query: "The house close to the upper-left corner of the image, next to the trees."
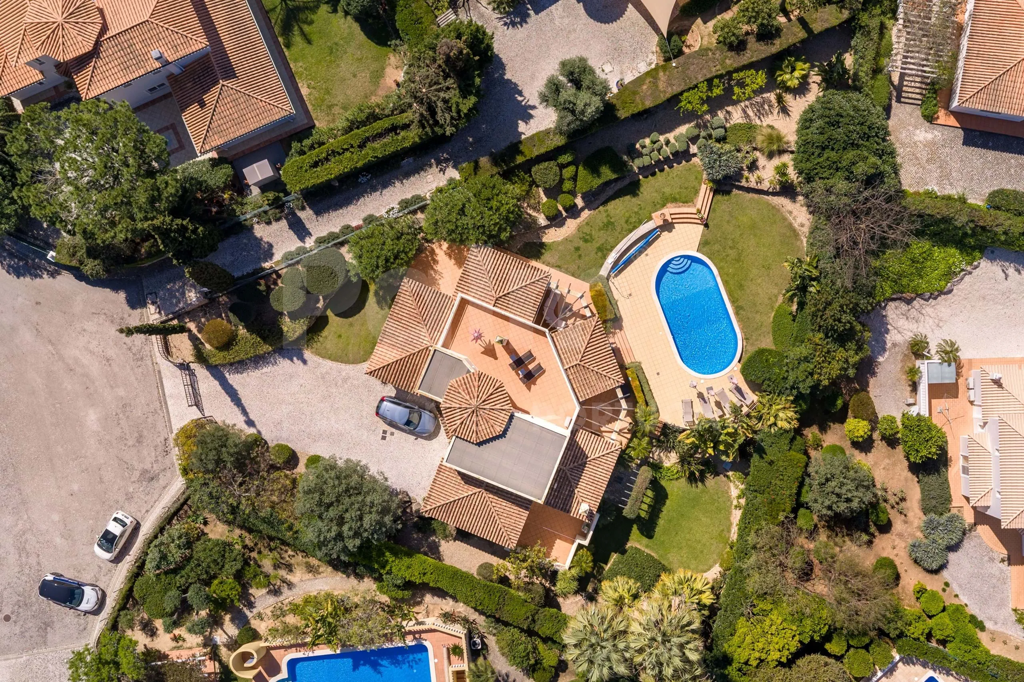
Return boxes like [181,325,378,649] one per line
[0,0,302,157]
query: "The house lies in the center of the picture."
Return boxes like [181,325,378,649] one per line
[364,243,625,570]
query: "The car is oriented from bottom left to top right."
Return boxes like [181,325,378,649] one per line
[93,511,134,563]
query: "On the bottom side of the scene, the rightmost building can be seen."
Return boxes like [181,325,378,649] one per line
[953,365,1024,530]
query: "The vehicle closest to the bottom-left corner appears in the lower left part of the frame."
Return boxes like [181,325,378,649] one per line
[46,575,102,607]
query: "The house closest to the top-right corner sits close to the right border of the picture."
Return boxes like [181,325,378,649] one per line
[947,0,1024,123]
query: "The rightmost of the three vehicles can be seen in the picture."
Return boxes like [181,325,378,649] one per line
[376,397,437,432]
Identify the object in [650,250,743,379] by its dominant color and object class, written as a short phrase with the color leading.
blue swimming pool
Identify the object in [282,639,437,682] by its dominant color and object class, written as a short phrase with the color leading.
blue swimming pool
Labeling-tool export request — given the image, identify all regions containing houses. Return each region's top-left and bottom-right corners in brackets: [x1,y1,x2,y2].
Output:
[953,365,1024,530]
[0,0,302,157]
[947,0,1024,123]
[364,243,625,570]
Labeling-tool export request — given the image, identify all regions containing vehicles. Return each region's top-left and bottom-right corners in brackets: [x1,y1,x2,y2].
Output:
[93,511,134,563]
[46,575,102,607]
[376,397,437,432]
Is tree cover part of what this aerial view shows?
Yes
